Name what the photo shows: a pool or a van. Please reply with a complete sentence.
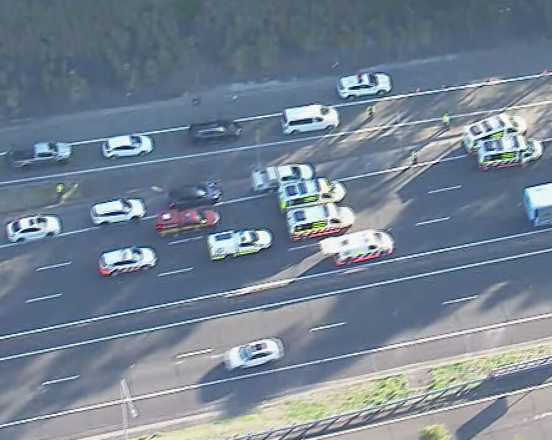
This aerial view contains a van.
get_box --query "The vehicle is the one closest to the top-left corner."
[9,140,71,170]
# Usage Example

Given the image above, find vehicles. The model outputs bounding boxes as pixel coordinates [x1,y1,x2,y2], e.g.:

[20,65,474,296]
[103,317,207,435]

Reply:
[249,165,314,195]
[282,105,340,137]
[224,340,283,372]
[101,246,157,278]
[207,230,271,263]
[474,132,545,173]
[185,118,246,148]
[523,181,552,226]
[321,233,394,268]
[165,180,227,210]
[276,175,348,215]
[338,72,391,102]
[101,133,154,162]
[7,215,62,244]
[284,202,356,244]
[156,207,219,238]
[9,140,71,170]
[91,198,146,229]
[460,113,529,158]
